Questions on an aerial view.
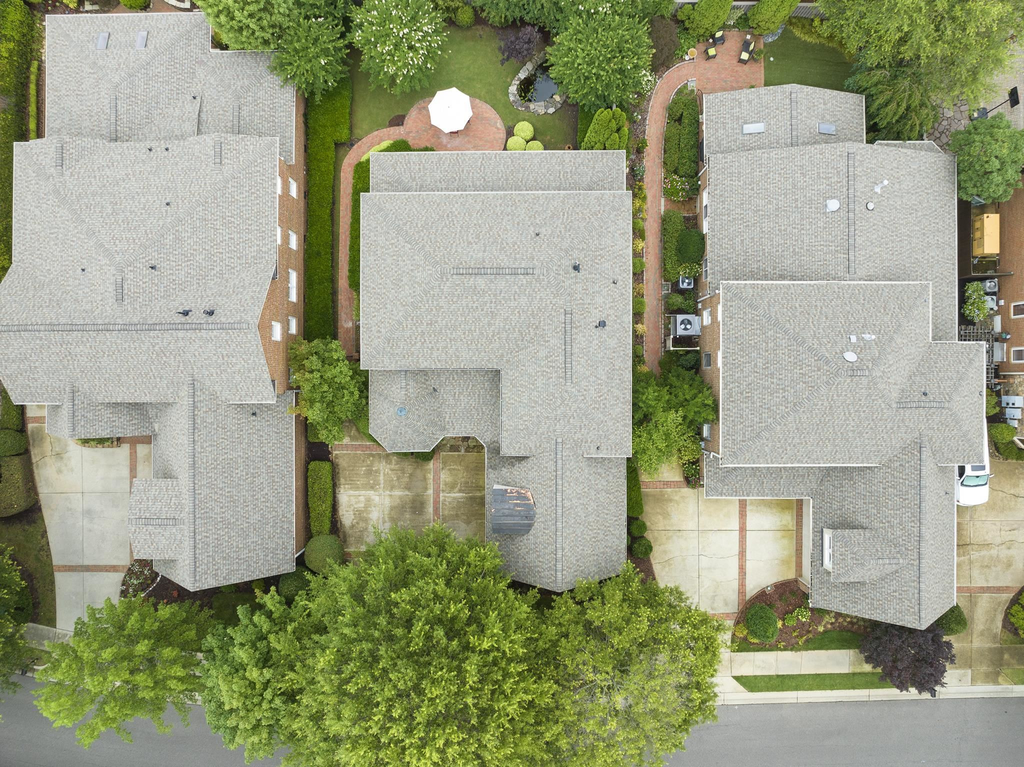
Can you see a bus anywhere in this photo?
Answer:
No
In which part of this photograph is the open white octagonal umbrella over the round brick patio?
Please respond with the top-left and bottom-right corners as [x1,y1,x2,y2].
[427,88,473,134]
